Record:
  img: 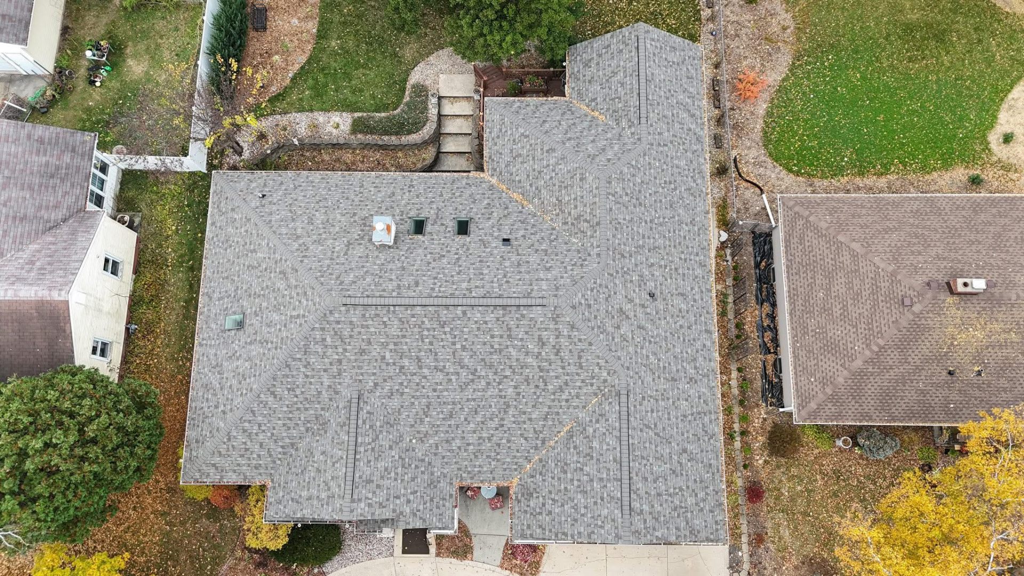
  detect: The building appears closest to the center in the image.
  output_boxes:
[178,22,729,547]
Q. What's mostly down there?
buildings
